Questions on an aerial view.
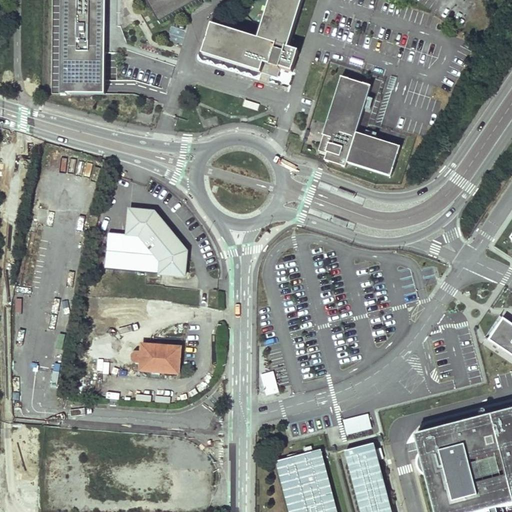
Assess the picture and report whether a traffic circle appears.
Yes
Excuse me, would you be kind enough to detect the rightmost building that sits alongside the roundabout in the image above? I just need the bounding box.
[319,76,400,179]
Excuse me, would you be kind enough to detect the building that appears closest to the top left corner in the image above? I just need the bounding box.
[52,0,106,95]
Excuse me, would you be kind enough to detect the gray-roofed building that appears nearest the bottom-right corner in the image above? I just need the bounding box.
[407,408,512,512]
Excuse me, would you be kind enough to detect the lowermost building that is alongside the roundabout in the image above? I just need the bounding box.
[104,207,189,278]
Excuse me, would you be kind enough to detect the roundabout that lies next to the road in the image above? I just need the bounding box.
[189,131,291,230]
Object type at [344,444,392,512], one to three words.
shed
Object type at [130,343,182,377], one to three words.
house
